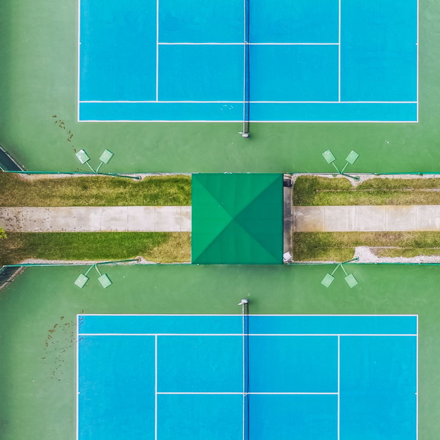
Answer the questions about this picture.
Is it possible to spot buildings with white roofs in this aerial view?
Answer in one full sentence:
No, the picture doesn't show any building with a white roof.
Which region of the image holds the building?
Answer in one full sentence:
The building appears toward the center of the photo.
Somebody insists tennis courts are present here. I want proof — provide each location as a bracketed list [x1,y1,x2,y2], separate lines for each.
[0,0,440,173]
[0,265,440,440]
